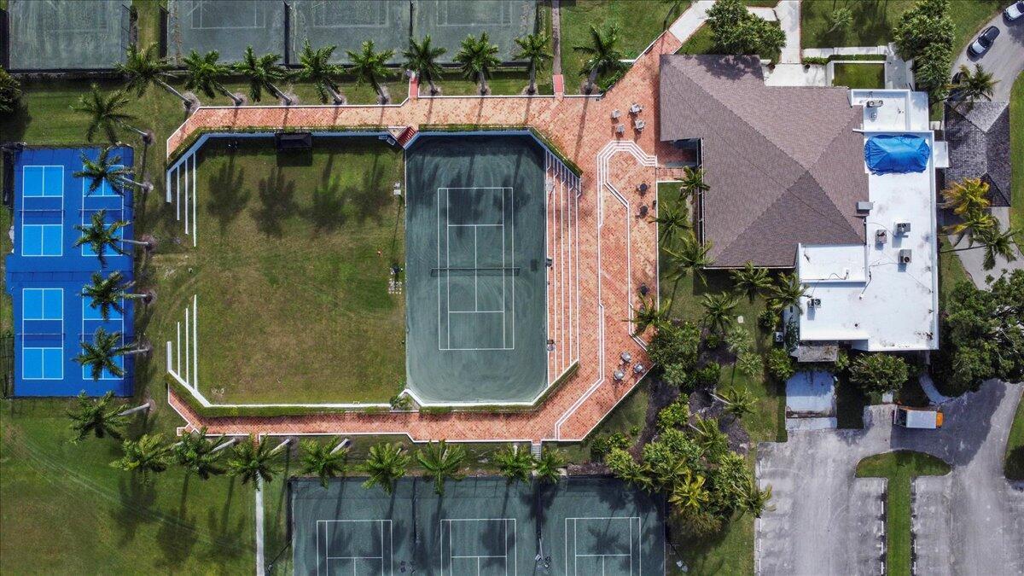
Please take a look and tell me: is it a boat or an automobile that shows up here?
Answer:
automobile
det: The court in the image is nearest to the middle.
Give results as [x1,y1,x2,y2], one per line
[406,134,547,404]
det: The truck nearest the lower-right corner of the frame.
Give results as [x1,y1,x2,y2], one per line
[892,408,943,429]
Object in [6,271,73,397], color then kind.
blue sports court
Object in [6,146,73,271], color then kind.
blue sports court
